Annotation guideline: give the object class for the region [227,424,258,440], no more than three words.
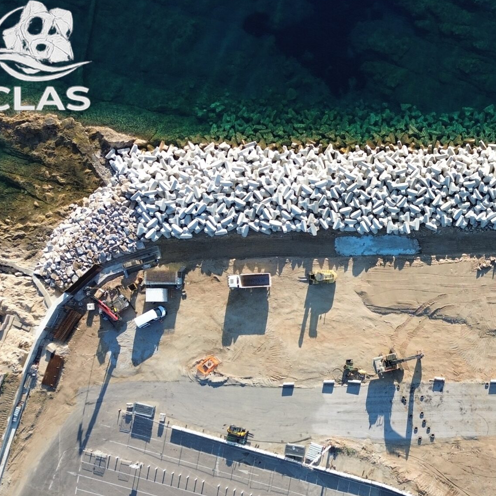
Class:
work vehicle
